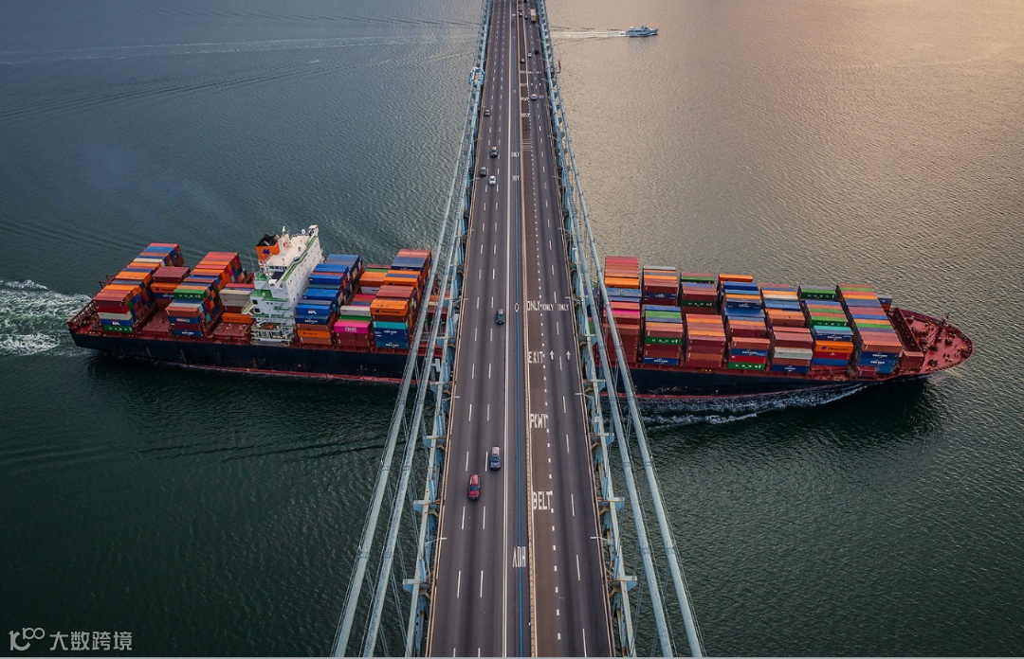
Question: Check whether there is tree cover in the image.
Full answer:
No, the picture contains no tree cover.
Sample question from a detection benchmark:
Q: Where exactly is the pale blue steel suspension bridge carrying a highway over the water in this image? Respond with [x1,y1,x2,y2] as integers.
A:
[323,0,714,659]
